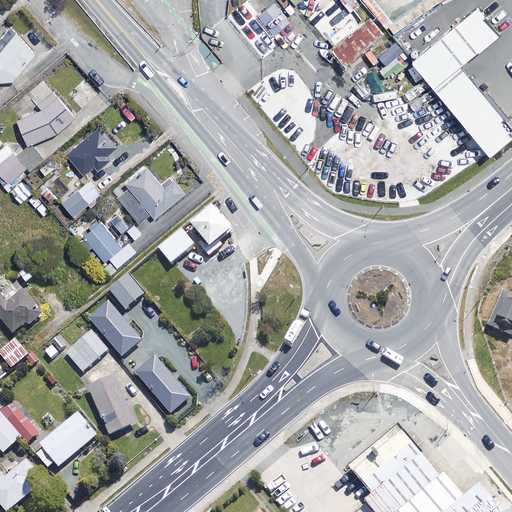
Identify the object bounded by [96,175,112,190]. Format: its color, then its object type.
white car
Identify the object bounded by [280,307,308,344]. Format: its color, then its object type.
white truck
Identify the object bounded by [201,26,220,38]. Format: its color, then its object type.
white vehicle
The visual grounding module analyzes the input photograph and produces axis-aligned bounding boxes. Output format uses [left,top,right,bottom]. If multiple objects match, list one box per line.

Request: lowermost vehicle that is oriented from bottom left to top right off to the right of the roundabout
[438,264,454,283]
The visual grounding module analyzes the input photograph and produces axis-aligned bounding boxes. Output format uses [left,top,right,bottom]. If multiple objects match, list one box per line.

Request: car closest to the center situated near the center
[218,244,234,258]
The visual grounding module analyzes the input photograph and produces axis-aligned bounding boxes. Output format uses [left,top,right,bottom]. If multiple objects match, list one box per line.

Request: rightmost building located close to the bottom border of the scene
[348,424,502,512]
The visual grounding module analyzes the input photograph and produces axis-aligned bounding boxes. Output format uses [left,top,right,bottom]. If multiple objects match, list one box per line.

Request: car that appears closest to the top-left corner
[26,30,40,46]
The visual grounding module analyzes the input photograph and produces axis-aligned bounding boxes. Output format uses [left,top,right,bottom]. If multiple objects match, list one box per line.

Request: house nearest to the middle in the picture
[190,202,231,255]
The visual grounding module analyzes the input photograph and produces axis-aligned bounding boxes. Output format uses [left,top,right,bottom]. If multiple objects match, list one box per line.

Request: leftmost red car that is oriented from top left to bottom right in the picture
[120,104,134,120]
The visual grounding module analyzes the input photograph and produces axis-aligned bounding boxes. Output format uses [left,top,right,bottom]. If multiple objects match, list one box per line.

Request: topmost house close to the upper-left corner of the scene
[0,28,35,82]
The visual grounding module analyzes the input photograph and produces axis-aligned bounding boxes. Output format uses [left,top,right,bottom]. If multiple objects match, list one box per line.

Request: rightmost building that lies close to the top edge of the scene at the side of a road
[412,8,512,160]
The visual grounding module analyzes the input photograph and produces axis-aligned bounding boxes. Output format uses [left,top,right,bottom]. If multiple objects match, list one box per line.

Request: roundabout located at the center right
[347,265,412,330]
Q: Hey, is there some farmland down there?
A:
No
